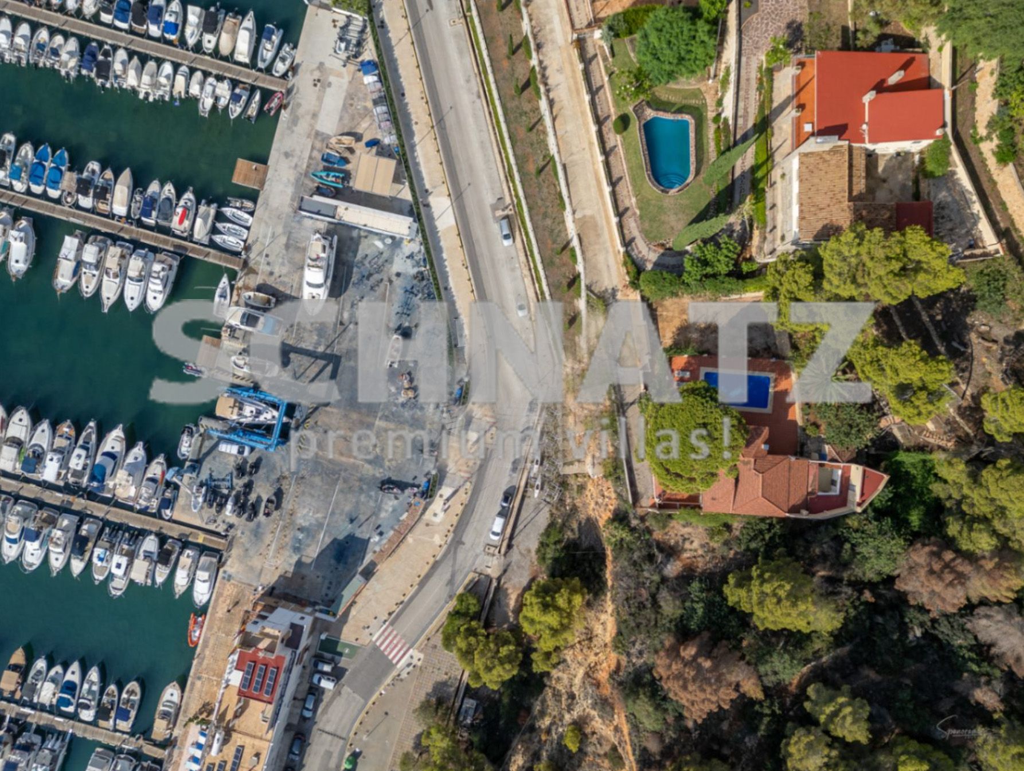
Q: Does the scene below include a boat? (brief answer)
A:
Yes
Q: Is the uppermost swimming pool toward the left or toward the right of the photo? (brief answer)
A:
right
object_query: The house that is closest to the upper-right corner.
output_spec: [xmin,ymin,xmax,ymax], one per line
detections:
[781,50,943,247]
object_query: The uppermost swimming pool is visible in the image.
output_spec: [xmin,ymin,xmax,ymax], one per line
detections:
[638,111,695,195]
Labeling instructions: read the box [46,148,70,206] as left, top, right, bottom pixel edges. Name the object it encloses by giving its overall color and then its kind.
blue boat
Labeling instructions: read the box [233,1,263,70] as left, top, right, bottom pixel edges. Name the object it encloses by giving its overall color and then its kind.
white boat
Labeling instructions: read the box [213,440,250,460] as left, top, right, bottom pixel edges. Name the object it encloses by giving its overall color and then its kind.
white vehicle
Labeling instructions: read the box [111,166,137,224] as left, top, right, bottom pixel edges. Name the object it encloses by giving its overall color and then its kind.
white boat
